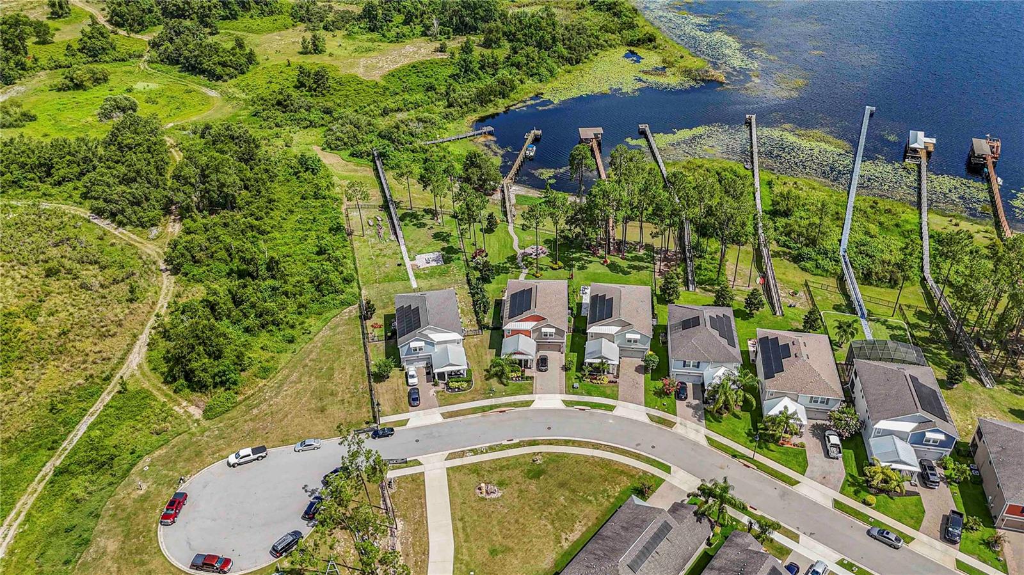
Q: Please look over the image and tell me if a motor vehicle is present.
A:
Yes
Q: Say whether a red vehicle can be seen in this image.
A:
Yes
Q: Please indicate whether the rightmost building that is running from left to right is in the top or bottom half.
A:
top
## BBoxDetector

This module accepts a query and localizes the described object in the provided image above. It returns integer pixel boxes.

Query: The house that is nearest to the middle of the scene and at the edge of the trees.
[501,279,567,370]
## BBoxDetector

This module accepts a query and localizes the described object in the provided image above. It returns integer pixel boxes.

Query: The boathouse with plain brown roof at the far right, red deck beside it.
[966,141,1013,161]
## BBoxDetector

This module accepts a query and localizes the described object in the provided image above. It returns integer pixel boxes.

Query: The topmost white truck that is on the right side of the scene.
[823,430,844,457]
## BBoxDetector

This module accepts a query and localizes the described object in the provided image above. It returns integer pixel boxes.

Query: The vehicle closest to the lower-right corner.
[944,509,964,544]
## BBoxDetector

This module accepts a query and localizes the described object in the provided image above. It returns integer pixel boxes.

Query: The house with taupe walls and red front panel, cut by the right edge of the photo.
[961,417,1024,533]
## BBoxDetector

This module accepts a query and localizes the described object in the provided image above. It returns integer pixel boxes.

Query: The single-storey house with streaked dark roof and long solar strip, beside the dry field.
[559,497,711,575]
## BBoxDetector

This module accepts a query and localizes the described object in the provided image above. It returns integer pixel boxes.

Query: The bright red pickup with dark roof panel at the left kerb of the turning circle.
[160,491,188,524]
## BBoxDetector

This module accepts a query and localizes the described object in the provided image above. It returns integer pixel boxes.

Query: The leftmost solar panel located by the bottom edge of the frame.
[627,521,672,574]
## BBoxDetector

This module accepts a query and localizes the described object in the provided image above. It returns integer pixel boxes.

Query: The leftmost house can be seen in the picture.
[392,288,468,384]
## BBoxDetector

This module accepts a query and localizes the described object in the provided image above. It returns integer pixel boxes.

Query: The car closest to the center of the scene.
[537,353,549,372]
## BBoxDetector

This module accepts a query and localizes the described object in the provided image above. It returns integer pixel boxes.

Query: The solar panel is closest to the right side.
[910,375,949,423]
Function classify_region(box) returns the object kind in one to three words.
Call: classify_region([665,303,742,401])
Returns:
house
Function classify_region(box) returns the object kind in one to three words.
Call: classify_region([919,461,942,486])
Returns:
car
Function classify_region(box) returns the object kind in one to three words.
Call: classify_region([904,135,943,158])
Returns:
building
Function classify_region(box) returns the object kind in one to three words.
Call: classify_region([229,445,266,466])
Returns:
truck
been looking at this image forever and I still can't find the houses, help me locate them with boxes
[700,534,782,575]
[665,303,742,401]
[501,279,567,370]
[752,329,842,434]
[961,417,1024,533]
[584,282,652,374]
[848,358,959,483]
[559,497,711,575]
[392,288,468,384]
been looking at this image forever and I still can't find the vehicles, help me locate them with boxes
[268,531,304,558]
[823,430,844,457]
[188,553,234,574]
[160,491,188,524]
[944,509,964,544]
[919,461,942,486]
[368,425,397,441]
[866,526,904,550]
[299,495,327,523]
[406,367,418,385]
[408,387,420,407]
[229,445,266,466]
[676,381,688,401]
[783,557,802,575]
[537,353,549,372]
[293,438,323,453]
[806,555,832,575]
